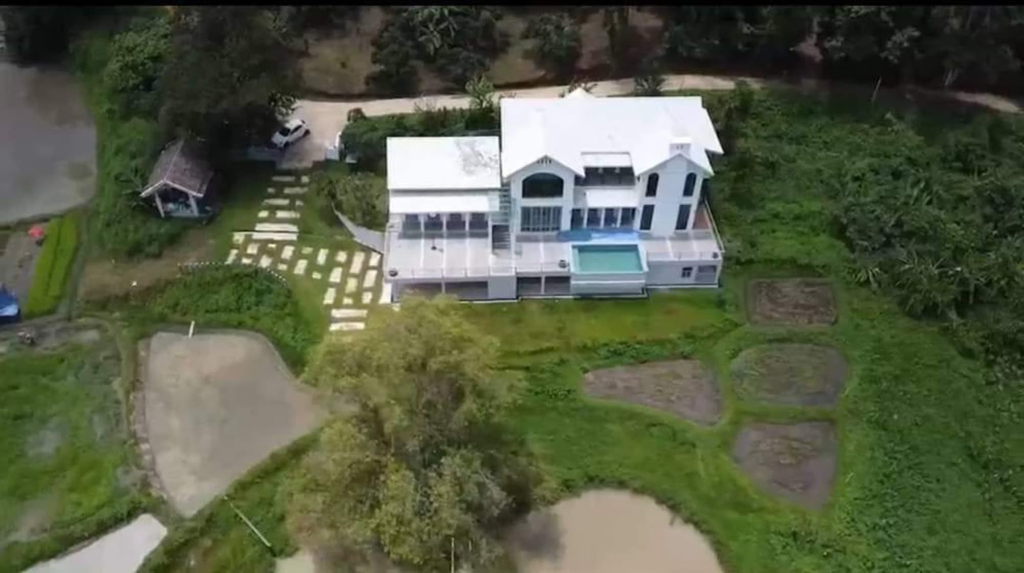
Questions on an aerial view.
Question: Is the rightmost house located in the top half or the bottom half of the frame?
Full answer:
The top half of the photo is where the rightmost house is.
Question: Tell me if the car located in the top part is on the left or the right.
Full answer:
The car located in the top part appears in the left half of the scene.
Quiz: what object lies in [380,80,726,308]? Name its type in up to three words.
house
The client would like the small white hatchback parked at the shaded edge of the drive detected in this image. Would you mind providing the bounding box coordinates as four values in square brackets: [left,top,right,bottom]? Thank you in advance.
[271,121,311,149]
